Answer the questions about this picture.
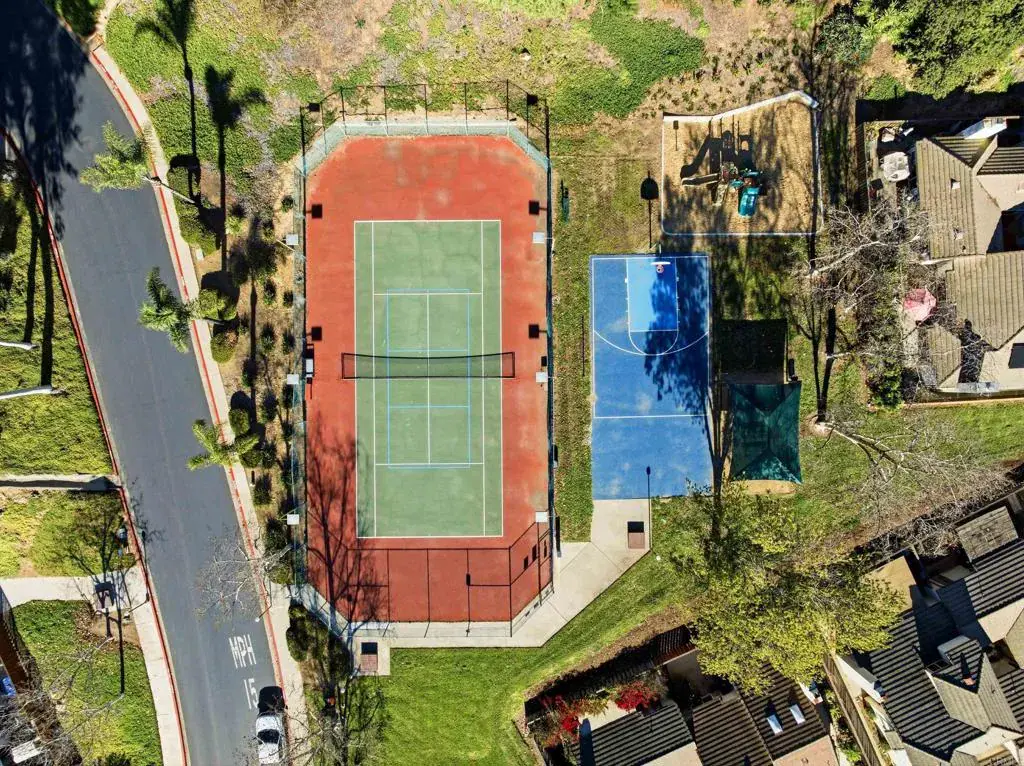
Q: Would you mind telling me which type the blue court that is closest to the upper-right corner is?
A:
basketball court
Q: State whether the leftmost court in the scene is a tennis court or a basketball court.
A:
tennis court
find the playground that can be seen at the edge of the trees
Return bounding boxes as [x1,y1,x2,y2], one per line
[661,90,823,236]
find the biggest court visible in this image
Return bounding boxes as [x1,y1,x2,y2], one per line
[307,136,551,623]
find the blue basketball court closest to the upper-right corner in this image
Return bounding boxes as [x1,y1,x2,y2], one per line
[590,254,713,500]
